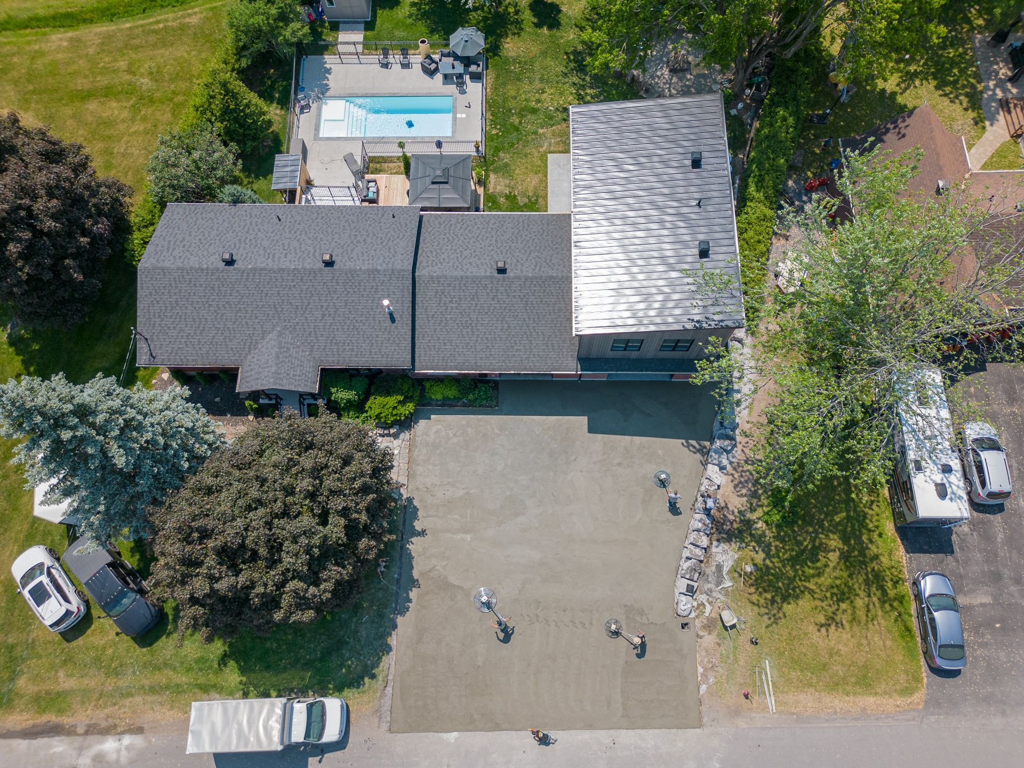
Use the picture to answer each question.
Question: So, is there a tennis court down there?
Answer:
No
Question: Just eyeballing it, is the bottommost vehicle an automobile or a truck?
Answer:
truck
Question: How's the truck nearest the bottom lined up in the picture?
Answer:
horizontally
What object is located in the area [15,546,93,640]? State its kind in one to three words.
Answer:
car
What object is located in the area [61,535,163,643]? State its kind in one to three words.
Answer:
vehicle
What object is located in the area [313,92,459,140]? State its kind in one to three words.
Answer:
swimming pool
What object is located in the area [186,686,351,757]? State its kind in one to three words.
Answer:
truck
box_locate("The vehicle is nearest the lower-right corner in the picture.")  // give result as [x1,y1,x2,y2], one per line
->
[909,573,968,673]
